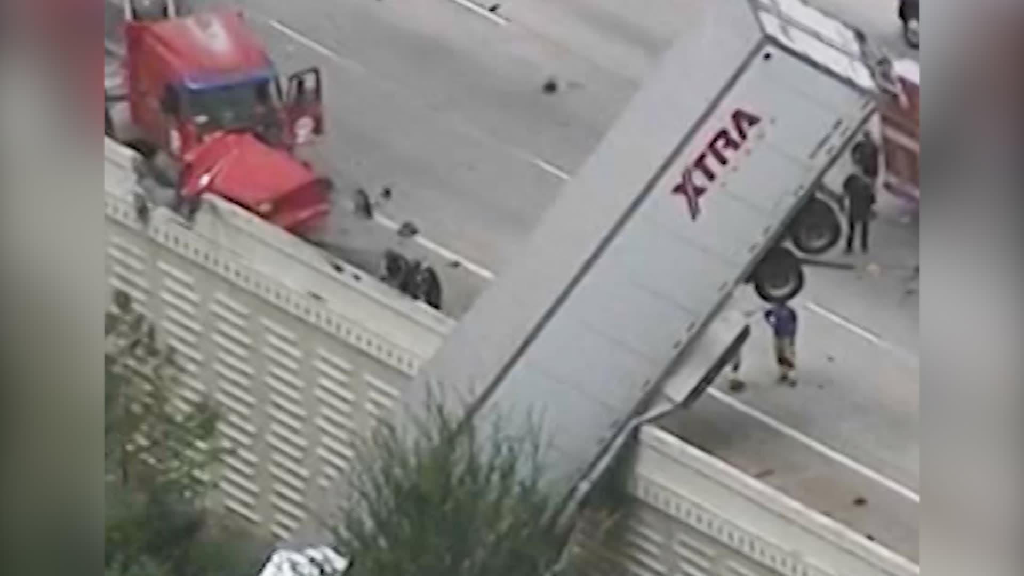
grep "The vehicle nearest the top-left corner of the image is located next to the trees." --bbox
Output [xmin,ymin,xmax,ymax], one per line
[92,0,338,256]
